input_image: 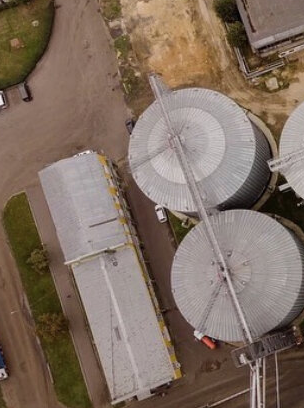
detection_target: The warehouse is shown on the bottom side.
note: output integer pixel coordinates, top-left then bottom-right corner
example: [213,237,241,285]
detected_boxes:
[39,154,182,402]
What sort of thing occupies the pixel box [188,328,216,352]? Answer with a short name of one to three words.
truck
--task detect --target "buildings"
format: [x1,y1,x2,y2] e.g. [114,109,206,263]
[39,154,182,402]
[237,0,304,61]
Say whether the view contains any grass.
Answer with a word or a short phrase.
Yes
